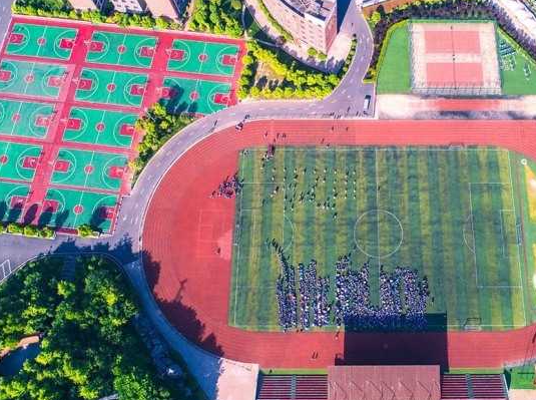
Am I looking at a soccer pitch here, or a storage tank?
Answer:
soccer pitch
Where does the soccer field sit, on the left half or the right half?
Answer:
right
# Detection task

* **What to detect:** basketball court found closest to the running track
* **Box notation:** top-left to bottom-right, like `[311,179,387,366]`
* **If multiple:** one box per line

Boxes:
[157,76,231,116]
